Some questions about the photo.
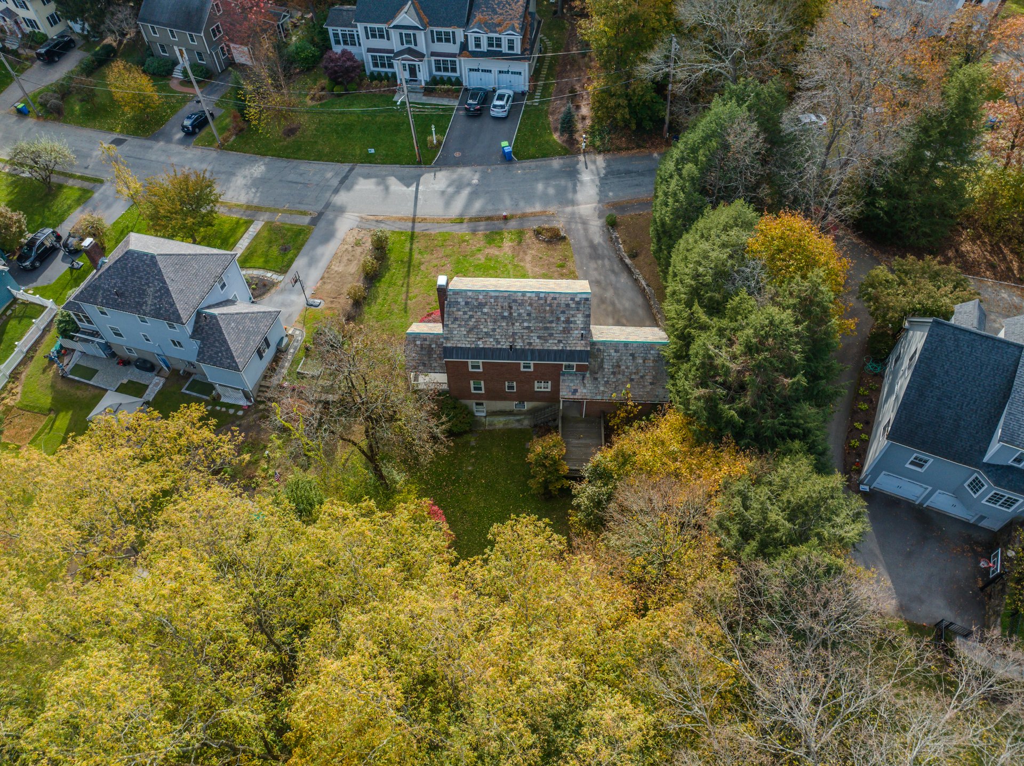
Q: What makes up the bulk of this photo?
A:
trees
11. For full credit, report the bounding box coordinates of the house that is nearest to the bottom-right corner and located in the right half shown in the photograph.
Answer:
[859,298,1024,541]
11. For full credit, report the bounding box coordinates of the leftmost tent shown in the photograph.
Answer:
[85,389,153,441]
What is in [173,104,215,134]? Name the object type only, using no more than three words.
car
